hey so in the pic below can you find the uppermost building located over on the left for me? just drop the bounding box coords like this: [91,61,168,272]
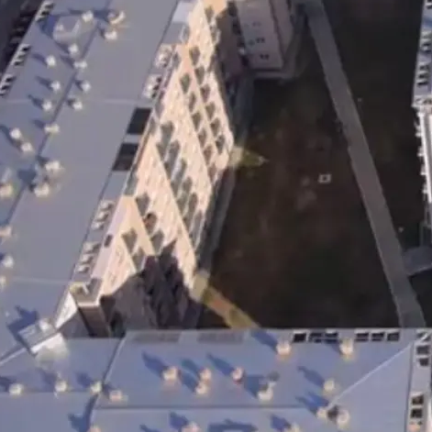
[0,0,242,335]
